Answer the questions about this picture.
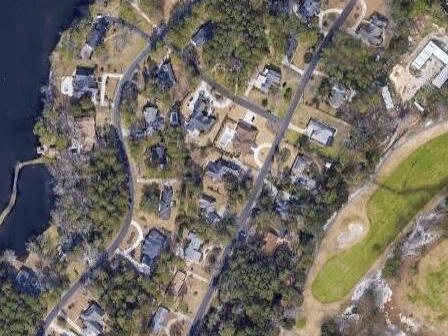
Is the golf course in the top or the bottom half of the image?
bottom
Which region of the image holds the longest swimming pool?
center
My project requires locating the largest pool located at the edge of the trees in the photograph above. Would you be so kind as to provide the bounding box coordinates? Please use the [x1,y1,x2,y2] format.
[217,126,237,150]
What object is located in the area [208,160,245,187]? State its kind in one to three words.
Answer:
house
